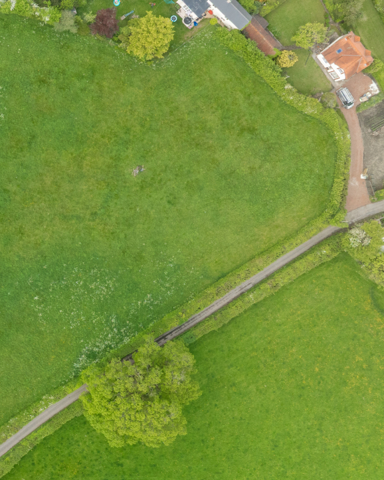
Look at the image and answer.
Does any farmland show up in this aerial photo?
Yes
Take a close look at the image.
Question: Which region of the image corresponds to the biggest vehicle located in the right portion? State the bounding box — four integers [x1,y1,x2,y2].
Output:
[334,85,353,110]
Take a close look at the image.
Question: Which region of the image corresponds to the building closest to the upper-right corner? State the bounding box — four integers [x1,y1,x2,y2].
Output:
[314,31,374,81]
